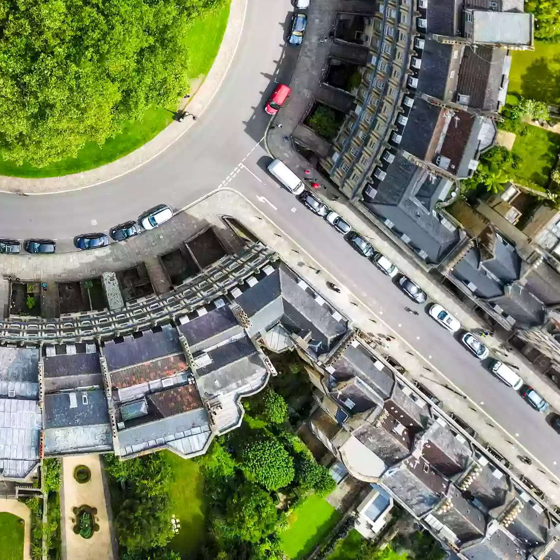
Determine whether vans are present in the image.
Yes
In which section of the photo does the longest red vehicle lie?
top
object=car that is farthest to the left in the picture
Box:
[0,239,21,254]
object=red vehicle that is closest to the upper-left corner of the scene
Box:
[265,79,292,117]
